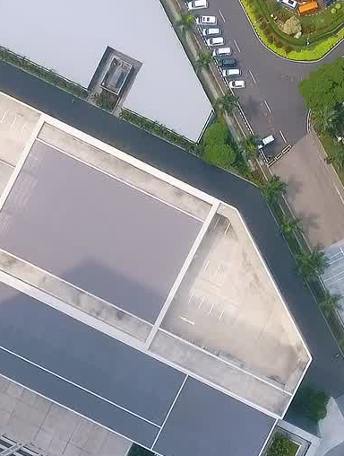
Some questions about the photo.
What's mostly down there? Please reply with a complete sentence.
The bulk of the photo consists of buildings.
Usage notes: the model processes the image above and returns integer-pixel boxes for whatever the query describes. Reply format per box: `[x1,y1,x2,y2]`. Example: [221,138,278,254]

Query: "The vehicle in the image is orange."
[298,0,319,16]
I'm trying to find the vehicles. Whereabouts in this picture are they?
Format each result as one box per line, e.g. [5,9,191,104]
[214,47,232,57]
[220,57,238,67]
[224,68,241,77]
[298,0,319,16]
[189,0,207,10]
[259,134,276,148]
[278,0,298,10]
[208,37,224,47]
[204,27,221,37]
[230,81,245,90]
[198,15,216,26]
